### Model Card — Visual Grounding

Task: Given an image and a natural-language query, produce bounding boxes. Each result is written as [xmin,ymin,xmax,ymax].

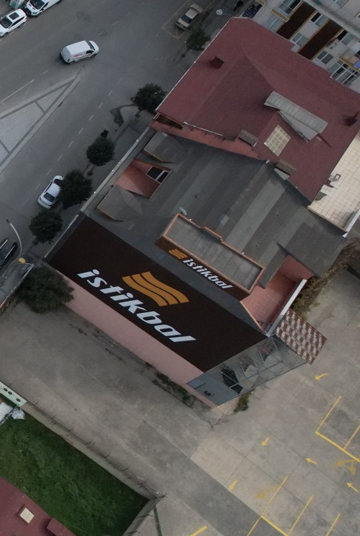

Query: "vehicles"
[58,38,102,66]
[172,0,206,31]
[24,0,60,17]
[0,6,30,38]
[36,174,64,212]
[0,235,20,273]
